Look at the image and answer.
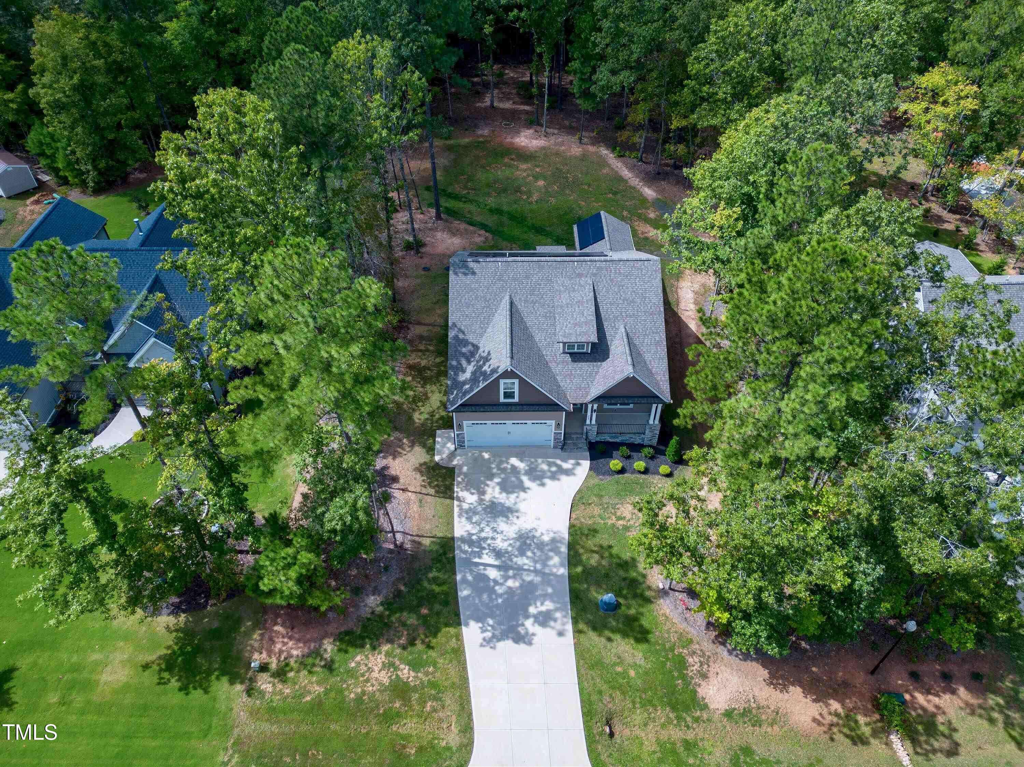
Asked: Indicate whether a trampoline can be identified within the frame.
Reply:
No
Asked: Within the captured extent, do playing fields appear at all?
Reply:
No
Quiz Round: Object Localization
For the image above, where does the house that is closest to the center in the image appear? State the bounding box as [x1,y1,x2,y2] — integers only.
[446,210,673,452]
